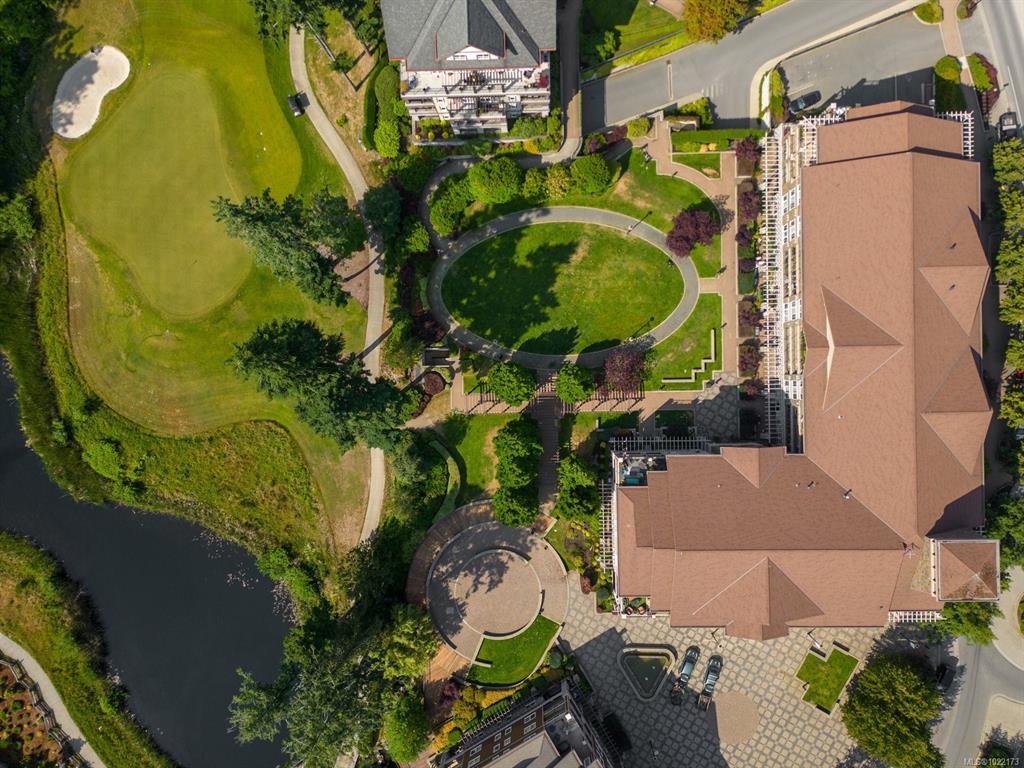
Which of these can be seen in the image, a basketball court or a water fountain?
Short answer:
water fountain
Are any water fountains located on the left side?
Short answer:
No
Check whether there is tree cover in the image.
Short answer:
Yes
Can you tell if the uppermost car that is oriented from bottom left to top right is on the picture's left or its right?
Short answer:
right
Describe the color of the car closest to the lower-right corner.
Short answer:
black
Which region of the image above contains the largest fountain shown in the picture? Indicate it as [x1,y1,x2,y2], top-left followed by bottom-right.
[617,642,680,706]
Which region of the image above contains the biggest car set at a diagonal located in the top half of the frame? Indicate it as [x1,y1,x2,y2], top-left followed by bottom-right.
[788,84,825,113]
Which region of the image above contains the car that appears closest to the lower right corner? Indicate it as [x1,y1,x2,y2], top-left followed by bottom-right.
[939,657,963,693]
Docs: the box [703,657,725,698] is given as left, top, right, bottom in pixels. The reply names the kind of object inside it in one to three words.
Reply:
car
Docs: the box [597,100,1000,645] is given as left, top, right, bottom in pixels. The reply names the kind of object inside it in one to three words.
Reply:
building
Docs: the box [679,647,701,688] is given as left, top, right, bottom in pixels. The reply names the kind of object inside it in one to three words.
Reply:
car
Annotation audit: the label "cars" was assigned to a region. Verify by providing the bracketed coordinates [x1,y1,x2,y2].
[788,84,825,113]
[1000,108,1024,146]
[679,647,701,688]
[939,657,963,693]
[703,657,725,698]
